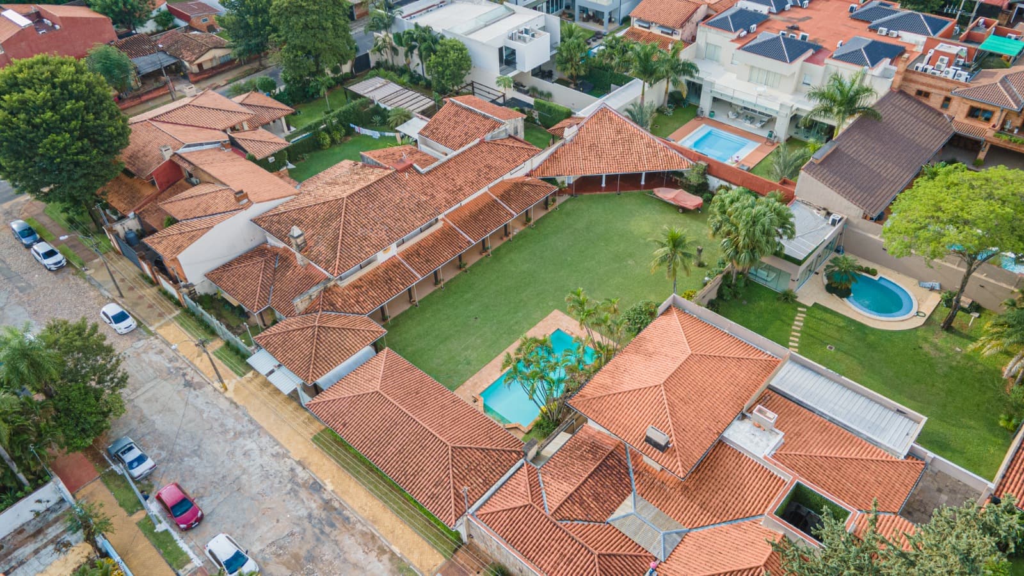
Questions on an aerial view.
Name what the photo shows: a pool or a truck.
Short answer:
pool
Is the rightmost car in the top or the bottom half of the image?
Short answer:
bottom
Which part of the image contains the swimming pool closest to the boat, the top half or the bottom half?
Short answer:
top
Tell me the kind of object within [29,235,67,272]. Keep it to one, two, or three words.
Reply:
car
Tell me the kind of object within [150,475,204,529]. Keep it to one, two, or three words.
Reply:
car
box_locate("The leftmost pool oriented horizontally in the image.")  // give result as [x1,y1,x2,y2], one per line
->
[664,115,782,169]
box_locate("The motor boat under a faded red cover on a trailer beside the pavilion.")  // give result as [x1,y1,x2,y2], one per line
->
[643,192,701,215]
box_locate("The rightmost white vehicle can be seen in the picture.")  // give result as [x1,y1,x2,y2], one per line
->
[203,526,262,576]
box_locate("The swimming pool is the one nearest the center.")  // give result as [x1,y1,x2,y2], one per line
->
[454,310,623,441]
